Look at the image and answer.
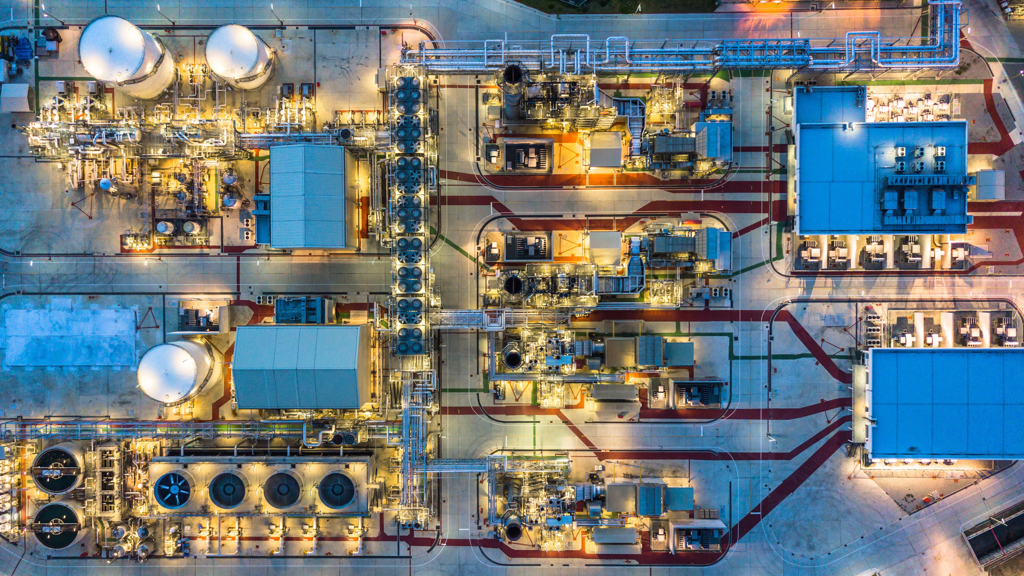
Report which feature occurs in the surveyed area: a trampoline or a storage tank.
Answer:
storage tank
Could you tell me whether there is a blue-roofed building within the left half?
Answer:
Yes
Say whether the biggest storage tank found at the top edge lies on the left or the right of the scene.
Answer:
left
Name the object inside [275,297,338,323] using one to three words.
building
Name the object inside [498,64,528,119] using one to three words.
chimney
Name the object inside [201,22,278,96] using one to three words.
storage tank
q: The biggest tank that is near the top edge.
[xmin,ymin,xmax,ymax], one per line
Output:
[74,12,177,102]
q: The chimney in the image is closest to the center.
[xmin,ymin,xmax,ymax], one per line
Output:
[498,270,528,300]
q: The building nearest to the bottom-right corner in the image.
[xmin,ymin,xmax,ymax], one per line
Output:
[846,346,1024,459]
